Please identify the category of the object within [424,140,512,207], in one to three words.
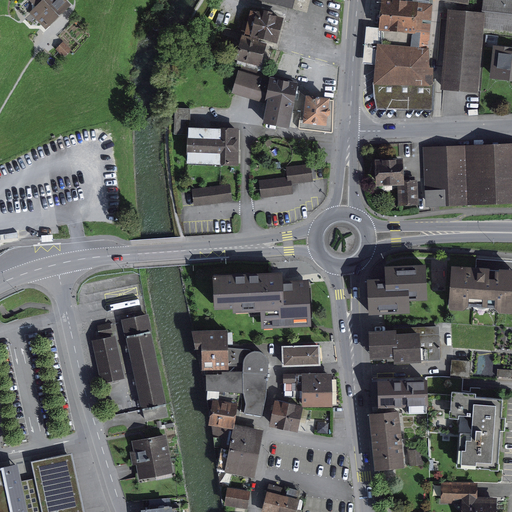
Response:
building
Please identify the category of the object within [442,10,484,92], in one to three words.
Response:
barn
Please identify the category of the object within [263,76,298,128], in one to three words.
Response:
house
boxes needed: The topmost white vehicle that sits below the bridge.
[110,299,140,311]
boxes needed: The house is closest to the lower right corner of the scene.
[439,482,497,512]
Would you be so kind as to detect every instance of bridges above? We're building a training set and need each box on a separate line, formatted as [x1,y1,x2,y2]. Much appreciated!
[129,236,190,269]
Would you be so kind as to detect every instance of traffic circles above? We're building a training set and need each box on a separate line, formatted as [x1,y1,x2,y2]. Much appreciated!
[308,206,377,274]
